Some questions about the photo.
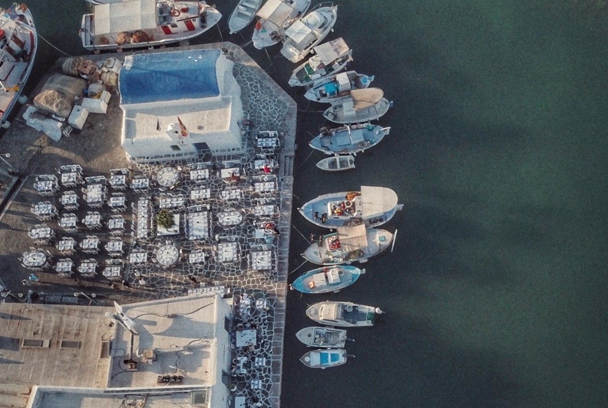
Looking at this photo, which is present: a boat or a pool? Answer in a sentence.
Visible in the photo is a boat.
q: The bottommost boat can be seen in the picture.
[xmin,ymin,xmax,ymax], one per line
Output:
[299,349,350,368]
